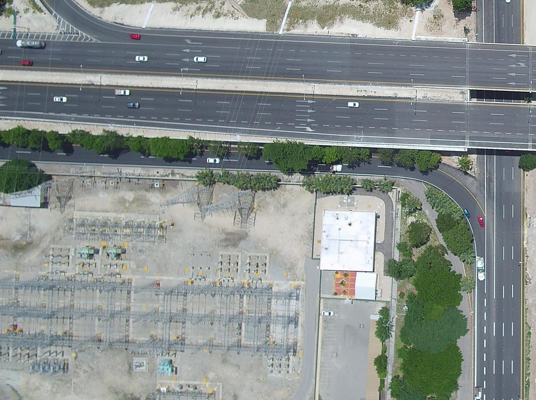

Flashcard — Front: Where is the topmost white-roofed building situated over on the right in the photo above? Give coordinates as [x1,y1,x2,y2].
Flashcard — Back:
[320,207,381,271]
